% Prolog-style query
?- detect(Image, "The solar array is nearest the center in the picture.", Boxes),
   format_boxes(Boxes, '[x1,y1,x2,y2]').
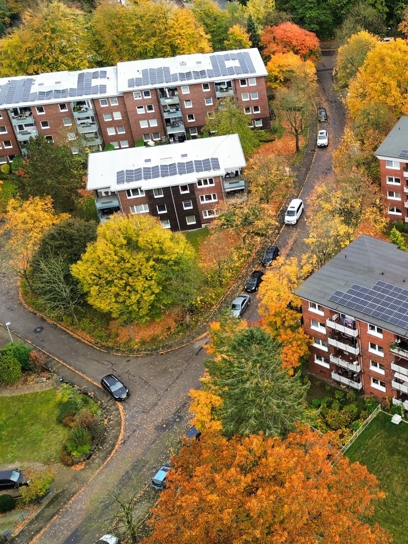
[117,159,221,185]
